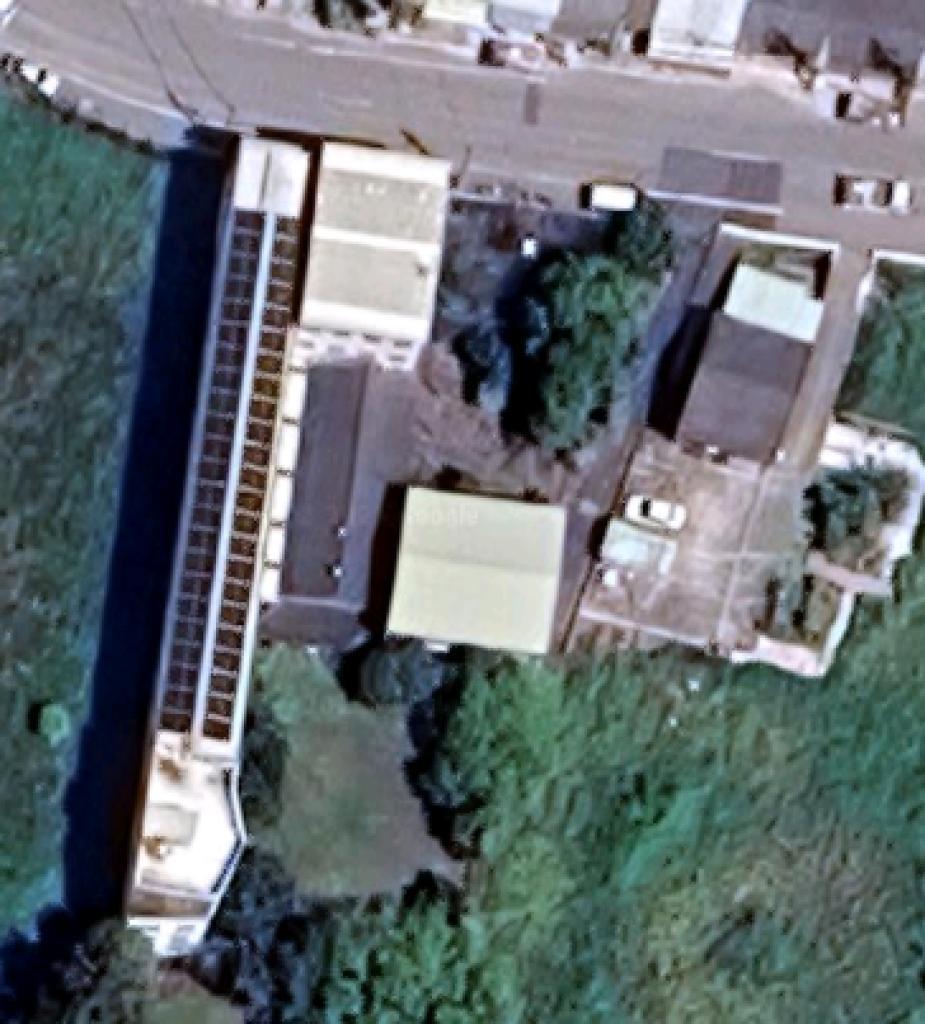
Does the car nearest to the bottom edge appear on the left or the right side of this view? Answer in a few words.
right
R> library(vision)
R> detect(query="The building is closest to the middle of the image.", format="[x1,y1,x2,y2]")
[387,487,568,655]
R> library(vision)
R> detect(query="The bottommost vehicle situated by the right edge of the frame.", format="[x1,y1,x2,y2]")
[834,176,910,209]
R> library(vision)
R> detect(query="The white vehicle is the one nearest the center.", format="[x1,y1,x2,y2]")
[623,496,689,532]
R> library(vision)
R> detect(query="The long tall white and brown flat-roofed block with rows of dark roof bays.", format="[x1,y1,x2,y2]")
[129,139,318,955]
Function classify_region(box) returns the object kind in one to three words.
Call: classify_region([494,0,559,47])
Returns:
house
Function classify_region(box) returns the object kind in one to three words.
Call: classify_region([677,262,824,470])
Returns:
house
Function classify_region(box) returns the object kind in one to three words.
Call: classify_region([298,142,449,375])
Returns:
building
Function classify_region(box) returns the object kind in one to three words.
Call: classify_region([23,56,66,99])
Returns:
car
